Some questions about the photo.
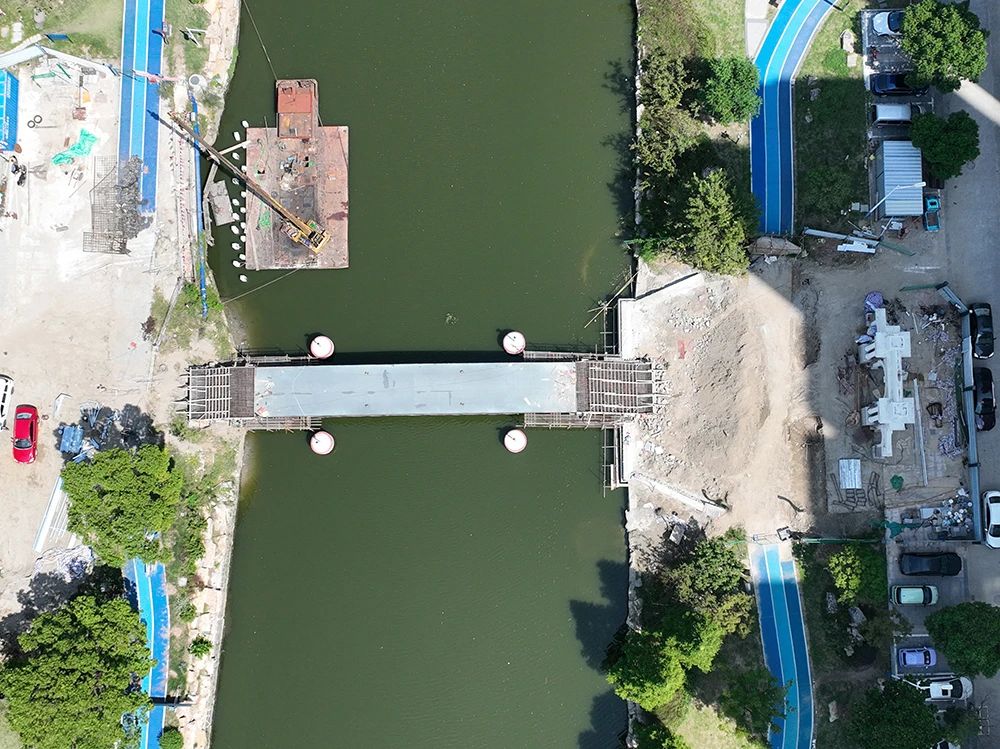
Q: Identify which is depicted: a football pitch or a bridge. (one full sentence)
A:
The one in the frame is a bridge.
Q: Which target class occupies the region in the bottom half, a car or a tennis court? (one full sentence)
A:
The feature located in the bottom half is a car.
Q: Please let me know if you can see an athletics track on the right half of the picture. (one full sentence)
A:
Yes, an athletics track can be seen on the right half of the picture.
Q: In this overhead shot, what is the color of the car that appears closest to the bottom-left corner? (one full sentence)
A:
In this view, the car that appears closest to the bottom-left corner is red.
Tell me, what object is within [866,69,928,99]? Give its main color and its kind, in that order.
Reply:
black car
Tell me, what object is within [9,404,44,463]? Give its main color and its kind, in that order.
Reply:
red car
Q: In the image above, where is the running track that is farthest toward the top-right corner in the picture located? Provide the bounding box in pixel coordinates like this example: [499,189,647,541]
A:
[750,0,836,236]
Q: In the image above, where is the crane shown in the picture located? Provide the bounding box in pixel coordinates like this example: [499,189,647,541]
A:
[165,106,332,256]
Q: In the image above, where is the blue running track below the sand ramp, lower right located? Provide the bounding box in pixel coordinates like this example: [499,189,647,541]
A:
[749,543,814,749]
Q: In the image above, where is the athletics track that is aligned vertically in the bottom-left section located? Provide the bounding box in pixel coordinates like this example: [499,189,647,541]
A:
[119,552,170,749]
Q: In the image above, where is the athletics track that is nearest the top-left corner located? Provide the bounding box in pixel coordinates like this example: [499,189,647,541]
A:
[117,0,165,213]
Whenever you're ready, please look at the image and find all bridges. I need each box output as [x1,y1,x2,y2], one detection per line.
[178,358,681,420]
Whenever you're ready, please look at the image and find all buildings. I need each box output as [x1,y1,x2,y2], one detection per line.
[0,68,19,151]
[875,140,932,216]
